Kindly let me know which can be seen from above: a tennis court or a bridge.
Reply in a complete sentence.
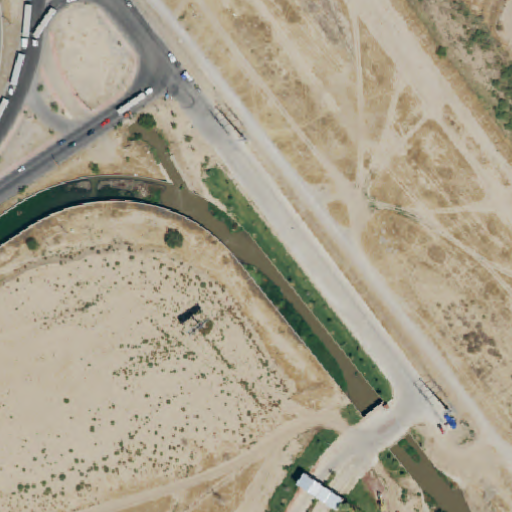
The image shows a bridge.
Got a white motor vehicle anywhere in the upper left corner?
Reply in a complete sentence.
Yes, I can see a white motor vehicle in the upper left corner.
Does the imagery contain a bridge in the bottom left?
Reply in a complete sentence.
No, the scene shows no bridge in the bottom left.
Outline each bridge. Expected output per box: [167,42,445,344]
[362,400,408,450]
